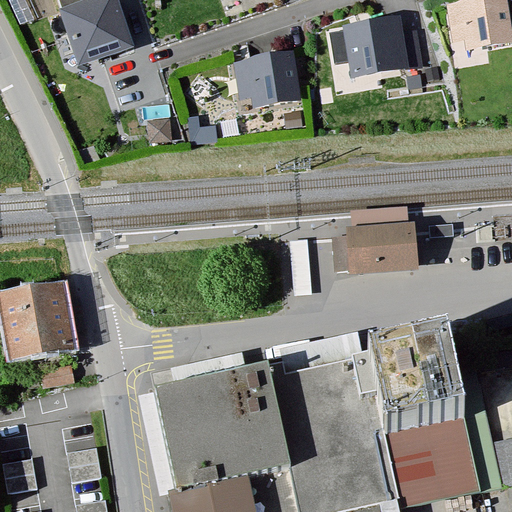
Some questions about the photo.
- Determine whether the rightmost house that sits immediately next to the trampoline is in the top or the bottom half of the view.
top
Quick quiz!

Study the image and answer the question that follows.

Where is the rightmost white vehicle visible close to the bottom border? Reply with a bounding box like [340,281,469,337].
[78,490,104,504]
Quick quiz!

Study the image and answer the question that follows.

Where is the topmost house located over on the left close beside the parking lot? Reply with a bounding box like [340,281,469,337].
[0,279,80,364]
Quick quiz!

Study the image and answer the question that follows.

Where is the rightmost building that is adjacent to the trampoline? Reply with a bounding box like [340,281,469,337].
[60,0,135,64]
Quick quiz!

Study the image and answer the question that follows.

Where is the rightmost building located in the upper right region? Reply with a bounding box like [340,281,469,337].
[446,0,512,53]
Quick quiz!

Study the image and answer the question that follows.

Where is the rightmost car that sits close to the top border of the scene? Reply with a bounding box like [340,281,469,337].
[289,24,303,49]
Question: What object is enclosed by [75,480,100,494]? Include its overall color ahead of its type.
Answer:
blue car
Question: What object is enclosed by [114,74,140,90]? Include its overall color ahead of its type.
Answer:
black car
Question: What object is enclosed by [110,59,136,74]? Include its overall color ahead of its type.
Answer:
red car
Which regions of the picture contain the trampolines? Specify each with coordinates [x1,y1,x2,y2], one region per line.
[49,18,66,34]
